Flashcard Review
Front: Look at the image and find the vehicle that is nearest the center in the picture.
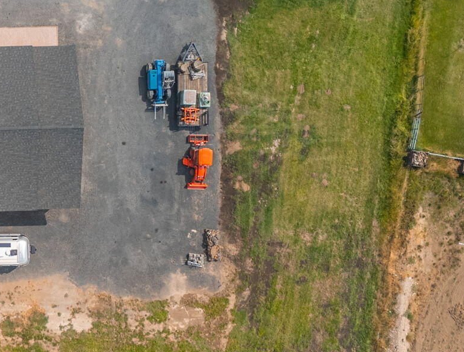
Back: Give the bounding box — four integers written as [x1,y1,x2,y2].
[185,134,215,191]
